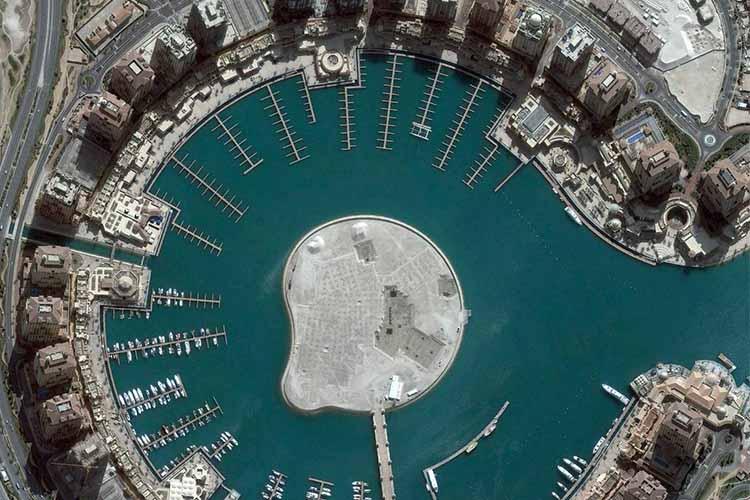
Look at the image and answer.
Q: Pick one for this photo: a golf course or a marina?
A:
marina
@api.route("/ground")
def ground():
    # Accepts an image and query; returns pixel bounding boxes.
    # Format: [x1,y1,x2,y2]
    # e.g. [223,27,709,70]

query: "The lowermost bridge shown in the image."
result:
[372,407,396,500]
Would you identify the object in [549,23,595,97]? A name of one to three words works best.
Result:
building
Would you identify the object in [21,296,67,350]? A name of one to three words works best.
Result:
building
